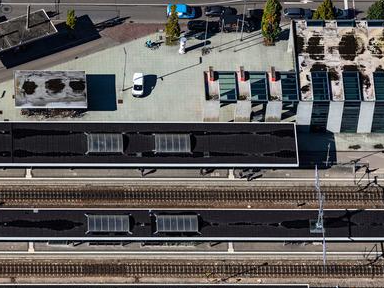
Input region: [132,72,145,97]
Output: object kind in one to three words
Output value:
vehicle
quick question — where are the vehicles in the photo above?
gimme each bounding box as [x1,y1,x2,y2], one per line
[168,4,195,19]
[132,72,145,97]
[221,15,254,34]
[285,7,313,20]
[203,6,231,18]
[187,20,216,34]
[246,7,268,20]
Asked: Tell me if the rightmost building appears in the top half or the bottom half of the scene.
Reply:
top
